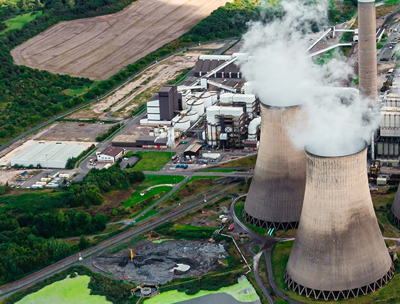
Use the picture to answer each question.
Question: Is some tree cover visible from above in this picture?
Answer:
Yes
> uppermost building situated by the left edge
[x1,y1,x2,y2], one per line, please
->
[11,140,97,169]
